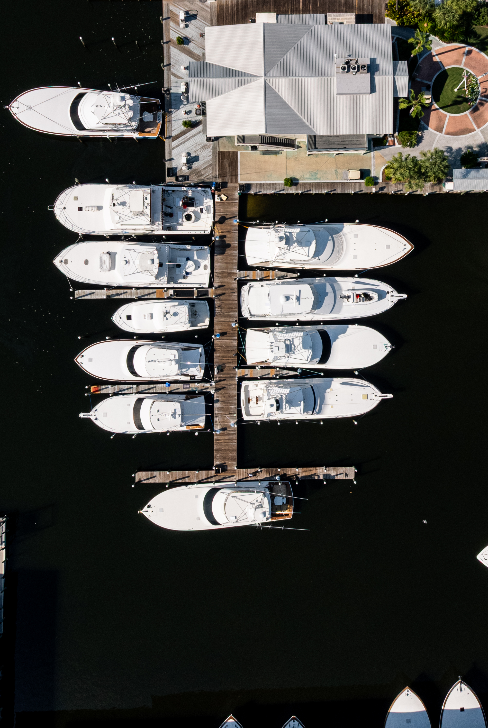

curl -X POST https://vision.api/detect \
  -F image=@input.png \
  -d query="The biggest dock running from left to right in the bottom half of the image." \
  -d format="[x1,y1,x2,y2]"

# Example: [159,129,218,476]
[135,465,356,483]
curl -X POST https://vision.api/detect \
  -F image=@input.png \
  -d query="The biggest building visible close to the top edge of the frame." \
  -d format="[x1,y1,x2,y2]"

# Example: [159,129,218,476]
[189,13,409,154]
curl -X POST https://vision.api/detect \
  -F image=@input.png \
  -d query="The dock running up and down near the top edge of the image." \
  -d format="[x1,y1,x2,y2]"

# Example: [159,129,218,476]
[163,0,227,186]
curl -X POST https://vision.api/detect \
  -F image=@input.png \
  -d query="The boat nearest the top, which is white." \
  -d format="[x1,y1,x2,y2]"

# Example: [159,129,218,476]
[2,81,163,141]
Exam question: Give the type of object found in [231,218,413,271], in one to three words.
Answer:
boat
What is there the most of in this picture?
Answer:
water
